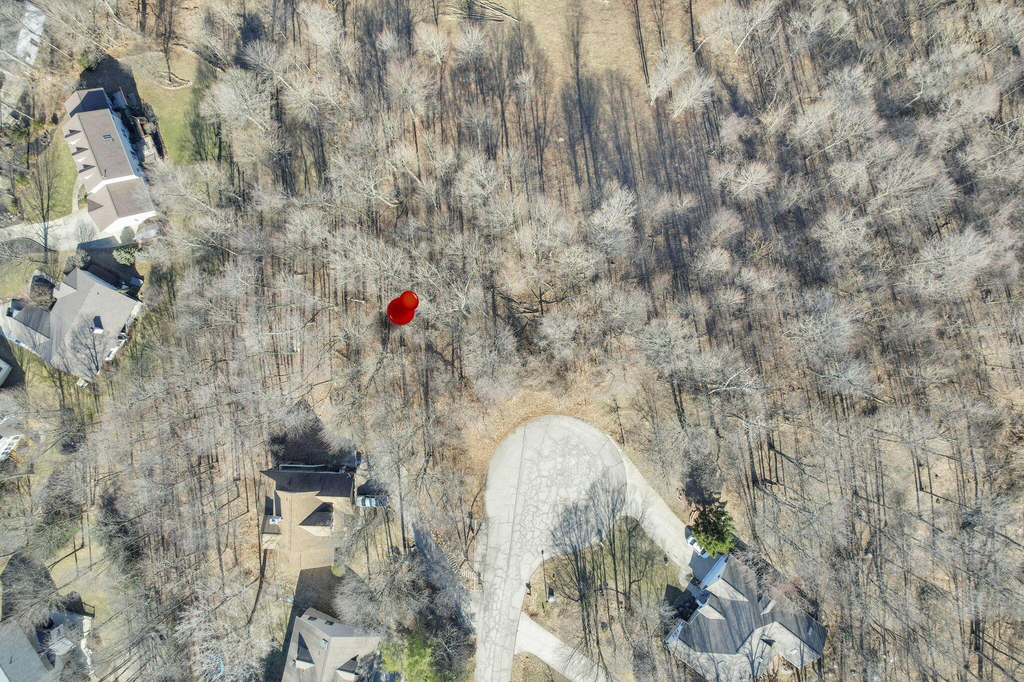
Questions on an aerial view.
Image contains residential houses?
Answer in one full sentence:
Yes, the frame does contain a residential house.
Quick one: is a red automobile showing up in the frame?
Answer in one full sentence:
No, there appears to be no red automobile in this shot.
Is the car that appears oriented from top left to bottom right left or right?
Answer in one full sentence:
The car that appears oriented from top left to bottom right appears in the right half of the scene.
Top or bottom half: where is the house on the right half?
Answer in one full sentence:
The house on the right half sits in the bottom half of the picture.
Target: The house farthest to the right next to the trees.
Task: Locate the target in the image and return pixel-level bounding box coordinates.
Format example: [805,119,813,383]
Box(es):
[666,552,830,682]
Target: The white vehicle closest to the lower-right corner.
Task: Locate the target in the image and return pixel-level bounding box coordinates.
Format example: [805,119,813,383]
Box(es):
[684,534,709,558]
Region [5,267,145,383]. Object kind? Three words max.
house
